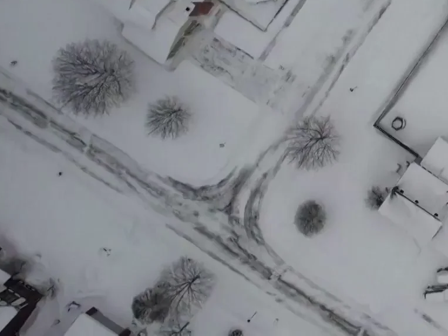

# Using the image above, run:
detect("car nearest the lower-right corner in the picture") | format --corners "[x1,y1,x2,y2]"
[423,287,448,304]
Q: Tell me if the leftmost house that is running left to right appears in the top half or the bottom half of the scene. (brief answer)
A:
bottom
